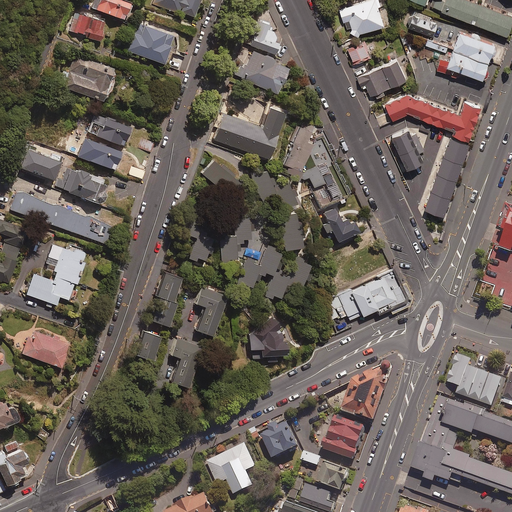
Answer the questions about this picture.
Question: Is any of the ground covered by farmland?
No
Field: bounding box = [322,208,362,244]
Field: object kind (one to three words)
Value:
house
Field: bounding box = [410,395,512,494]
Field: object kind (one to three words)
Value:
building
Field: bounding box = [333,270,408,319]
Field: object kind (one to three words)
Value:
building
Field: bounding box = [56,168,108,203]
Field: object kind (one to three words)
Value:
house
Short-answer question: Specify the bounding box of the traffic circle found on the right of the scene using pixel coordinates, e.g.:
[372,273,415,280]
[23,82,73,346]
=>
[418,300,443,352]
